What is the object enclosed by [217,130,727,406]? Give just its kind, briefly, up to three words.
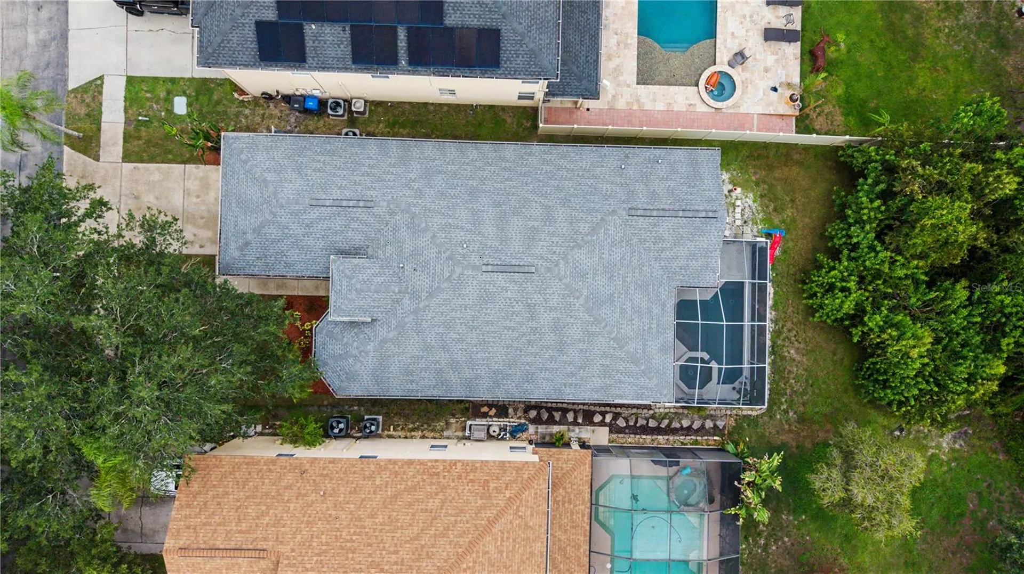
house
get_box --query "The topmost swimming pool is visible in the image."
[636,0,718,86]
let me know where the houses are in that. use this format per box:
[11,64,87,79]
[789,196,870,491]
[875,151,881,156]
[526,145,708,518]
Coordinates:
[217,130,727,406]
[188,0,609,109]
[162,437,592,574]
